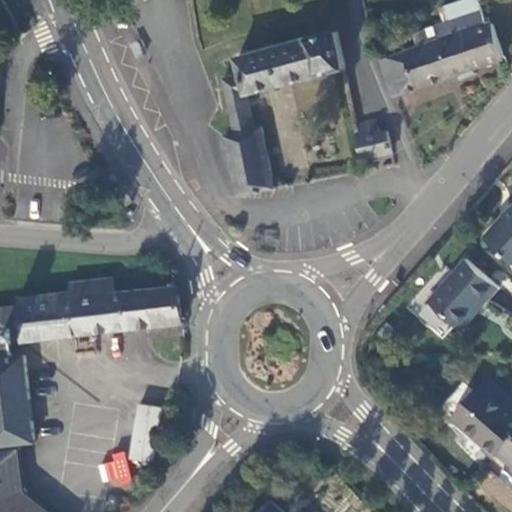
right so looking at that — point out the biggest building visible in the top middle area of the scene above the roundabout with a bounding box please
[232,32,343,99]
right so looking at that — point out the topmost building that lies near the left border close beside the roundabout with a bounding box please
[14,277,184,352]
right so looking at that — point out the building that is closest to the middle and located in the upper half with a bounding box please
[223,129,269,190]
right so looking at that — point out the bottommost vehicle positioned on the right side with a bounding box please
[318,330,332,350]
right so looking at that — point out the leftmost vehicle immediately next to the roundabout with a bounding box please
[230,248,249,268]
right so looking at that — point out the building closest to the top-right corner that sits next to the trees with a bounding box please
[388,0,502,92]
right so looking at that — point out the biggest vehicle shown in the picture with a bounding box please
[94,450,130,484]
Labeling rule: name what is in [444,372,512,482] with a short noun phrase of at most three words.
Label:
house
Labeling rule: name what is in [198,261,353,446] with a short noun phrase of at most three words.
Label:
roundabout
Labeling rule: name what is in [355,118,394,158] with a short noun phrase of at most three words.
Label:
house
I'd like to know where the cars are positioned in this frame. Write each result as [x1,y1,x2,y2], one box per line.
[36,367,58,378]
[40,426,61,436]
[30,197,40,217]
[230,248,249,268]
[318,330,332,350]
[111,336,122,356]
